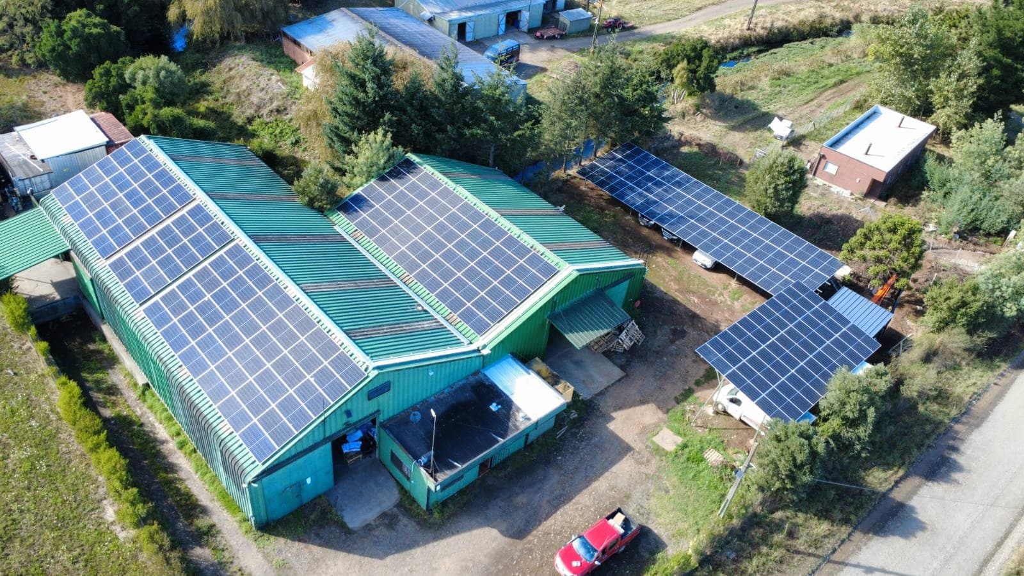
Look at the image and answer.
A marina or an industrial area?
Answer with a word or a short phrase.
industrial area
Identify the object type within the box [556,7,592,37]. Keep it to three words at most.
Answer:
shed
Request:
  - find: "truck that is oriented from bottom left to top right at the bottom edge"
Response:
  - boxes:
[552,503,649,576]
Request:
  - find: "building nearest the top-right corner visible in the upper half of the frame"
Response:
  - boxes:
[813,107,950,204]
